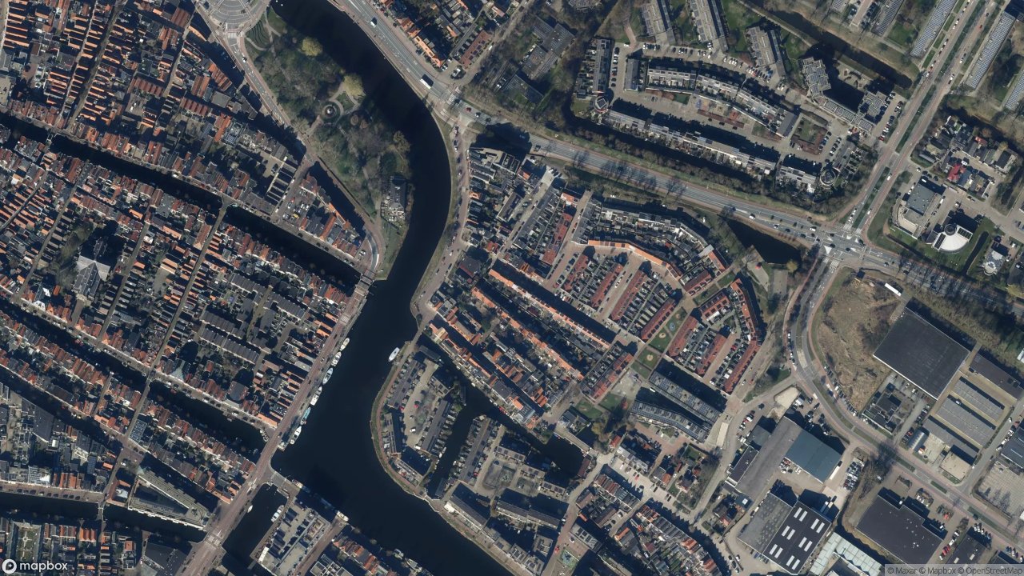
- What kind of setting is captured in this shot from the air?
residential area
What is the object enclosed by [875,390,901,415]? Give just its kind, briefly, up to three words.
house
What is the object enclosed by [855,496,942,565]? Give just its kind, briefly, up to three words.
building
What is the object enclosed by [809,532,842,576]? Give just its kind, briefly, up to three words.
greenhouse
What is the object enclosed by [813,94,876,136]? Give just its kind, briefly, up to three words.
building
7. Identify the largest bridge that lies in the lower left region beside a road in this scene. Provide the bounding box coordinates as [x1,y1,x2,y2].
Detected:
[200,513,235,554]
